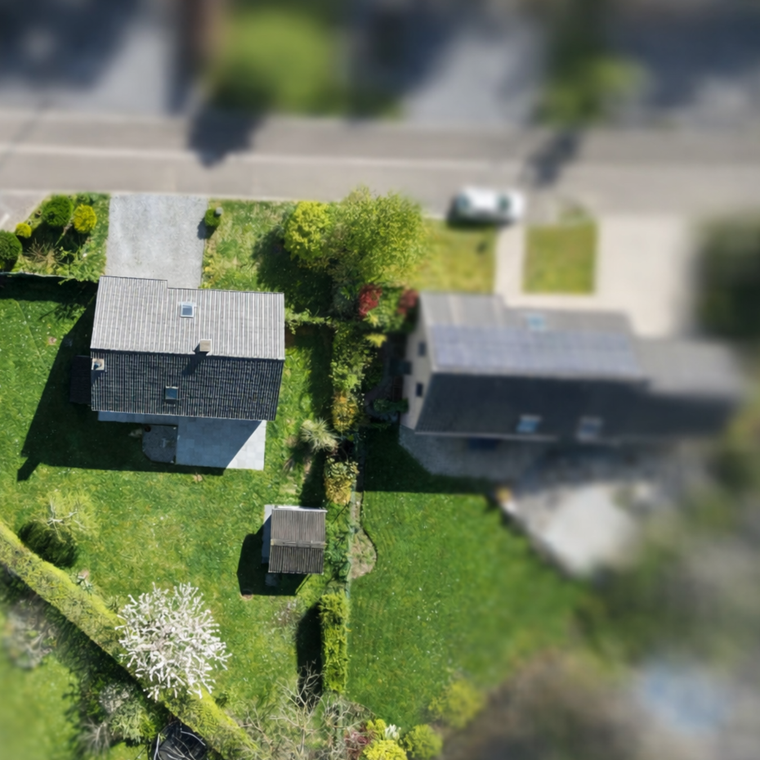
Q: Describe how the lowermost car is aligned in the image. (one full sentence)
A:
I'd say the lowermost car is aligned from left to right in the picture.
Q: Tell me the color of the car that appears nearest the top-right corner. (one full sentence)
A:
The car that appears nearest the top-right corner is white.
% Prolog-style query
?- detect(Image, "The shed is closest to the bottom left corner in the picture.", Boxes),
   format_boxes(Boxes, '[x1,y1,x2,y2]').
[261,501,330,577]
